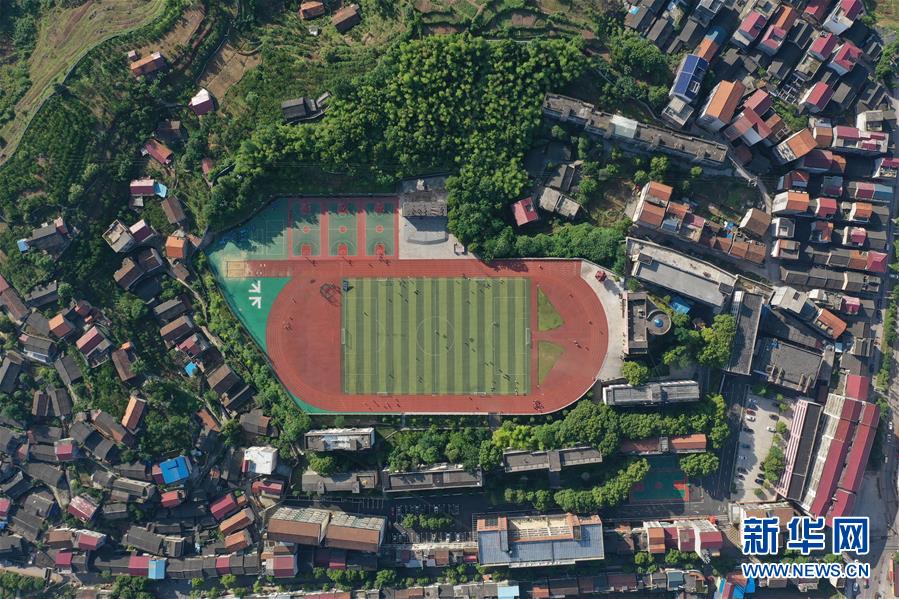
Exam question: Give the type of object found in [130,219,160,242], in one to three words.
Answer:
house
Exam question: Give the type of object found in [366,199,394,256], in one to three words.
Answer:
basketball court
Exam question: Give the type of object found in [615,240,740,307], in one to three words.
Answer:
building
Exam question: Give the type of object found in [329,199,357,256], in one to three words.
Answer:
basketball court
